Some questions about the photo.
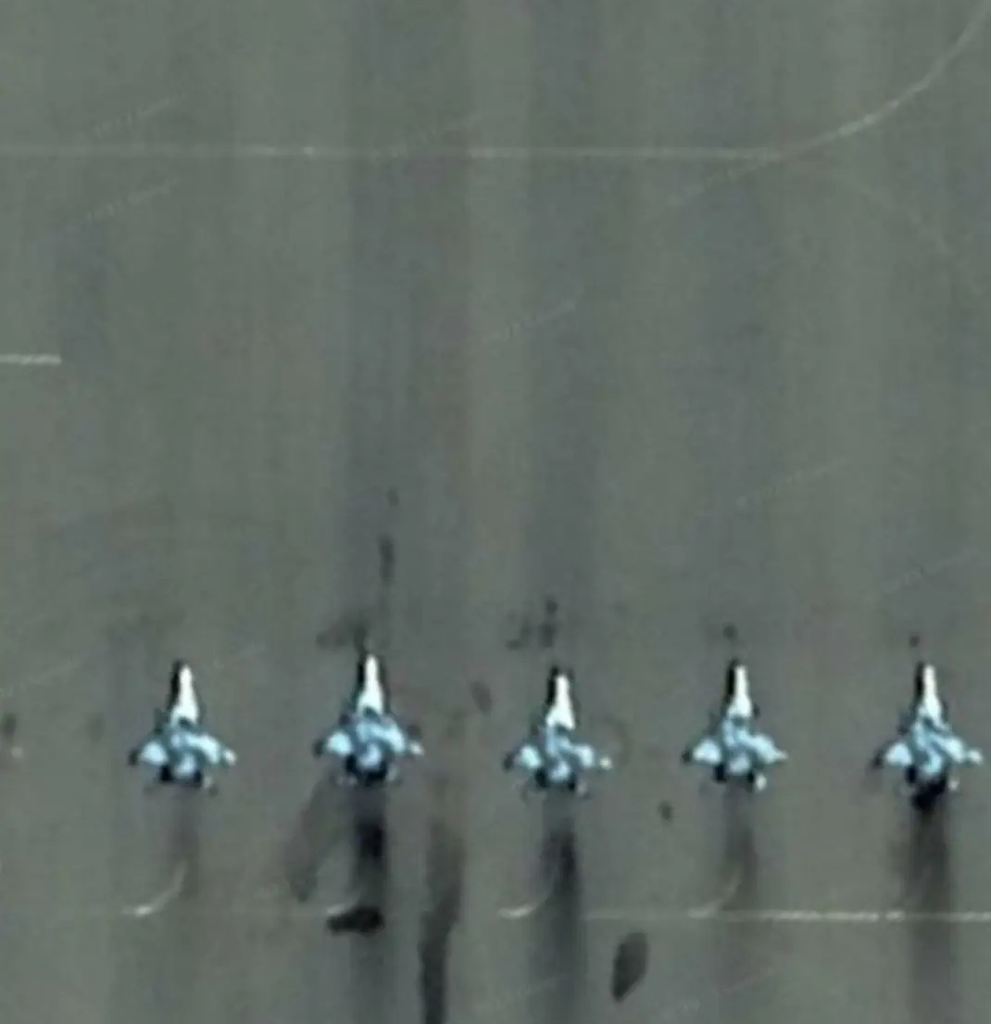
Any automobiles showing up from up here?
No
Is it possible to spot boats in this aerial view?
No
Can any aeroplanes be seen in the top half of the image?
No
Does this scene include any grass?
No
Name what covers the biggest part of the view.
paved ground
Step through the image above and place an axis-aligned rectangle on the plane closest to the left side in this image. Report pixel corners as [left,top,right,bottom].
[138,665,234,787]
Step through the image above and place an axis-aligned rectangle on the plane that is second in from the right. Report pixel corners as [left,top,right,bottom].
[693,665,789,788]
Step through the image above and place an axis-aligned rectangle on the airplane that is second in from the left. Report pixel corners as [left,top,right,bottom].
[325,654,420,777]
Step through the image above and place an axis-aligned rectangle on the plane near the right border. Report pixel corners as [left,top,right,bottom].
[880,665,975,788]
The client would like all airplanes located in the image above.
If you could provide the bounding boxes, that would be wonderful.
[514,673,609,796]
[138,665,234,787]
[880,665,975,788]
[325,654,420,777]
[693,665,789,788]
